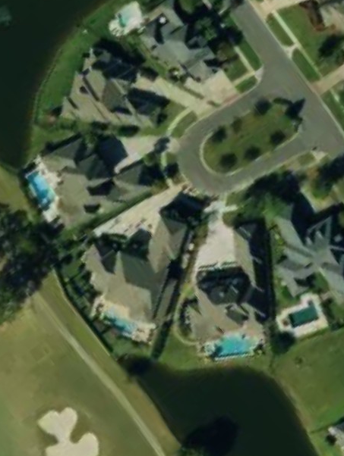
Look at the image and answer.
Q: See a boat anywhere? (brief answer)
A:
No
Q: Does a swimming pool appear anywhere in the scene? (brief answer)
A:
Yes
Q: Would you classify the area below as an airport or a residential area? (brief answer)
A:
residential area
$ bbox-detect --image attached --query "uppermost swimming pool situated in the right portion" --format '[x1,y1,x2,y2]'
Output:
[276,295,329,336]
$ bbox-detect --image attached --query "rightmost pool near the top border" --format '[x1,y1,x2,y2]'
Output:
[109,1,142,37]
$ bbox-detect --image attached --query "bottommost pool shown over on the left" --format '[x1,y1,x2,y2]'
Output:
[93,297,155,341]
